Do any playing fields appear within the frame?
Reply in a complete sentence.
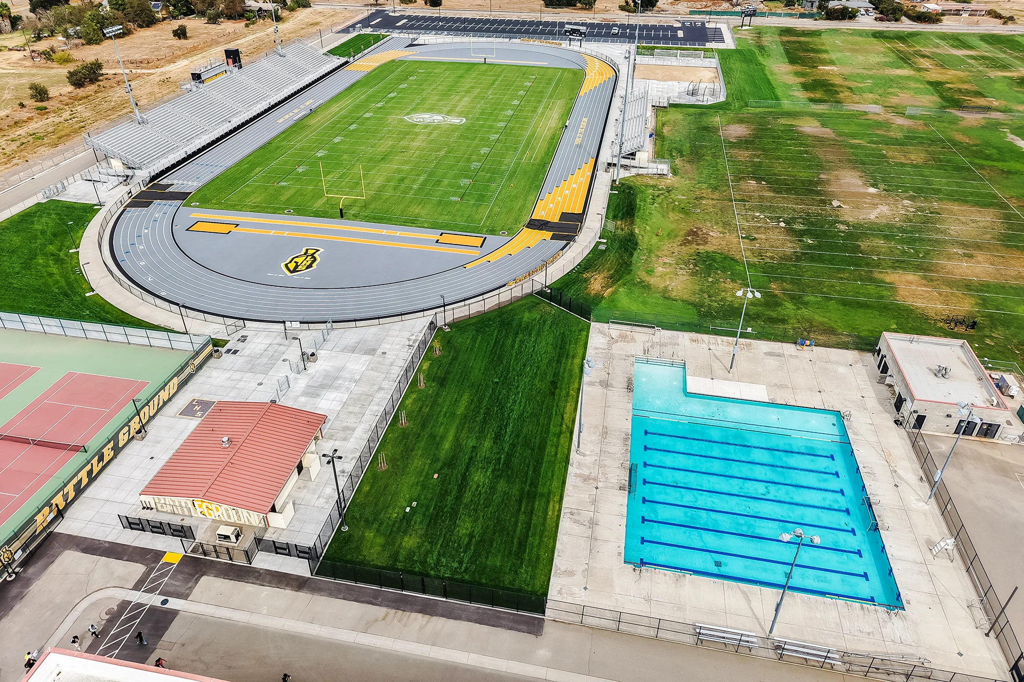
Yes, a playing field is visible in the scene.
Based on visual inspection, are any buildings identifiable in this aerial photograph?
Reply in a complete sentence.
Yes, you can see a building in this photo.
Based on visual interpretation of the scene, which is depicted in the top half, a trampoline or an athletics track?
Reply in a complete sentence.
You can see an athletics track in the top half.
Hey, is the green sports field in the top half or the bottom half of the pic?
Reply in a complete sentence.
The green sports field is in the top half of the image.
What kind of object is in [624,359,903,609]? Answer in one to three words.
swimming pool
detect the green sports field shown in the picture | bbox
[182,59,583,237]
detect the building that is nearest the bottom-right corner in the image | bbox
[875,332,1015,441]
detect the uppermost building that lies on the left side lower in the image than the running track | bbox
[139,399,327,533]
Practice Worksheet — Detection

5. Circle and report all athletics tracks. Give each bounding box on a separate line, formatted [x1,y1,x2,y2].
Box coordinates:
[108,37,617,326]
